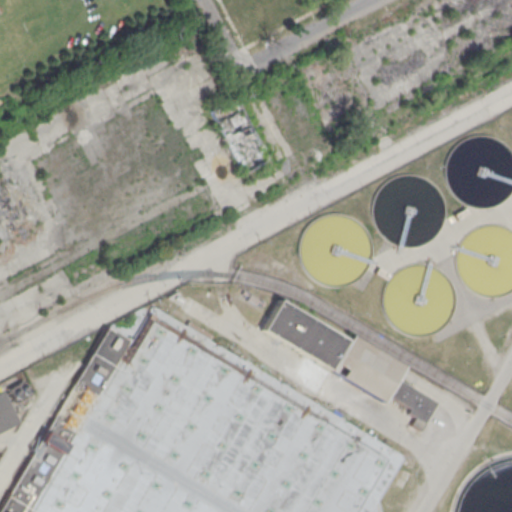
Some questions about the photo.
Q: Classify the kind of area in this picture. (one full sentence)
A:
This image shows an industrial area.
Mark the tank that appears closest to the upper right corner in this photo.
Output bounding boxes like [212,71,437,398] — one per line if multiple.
[443,133,512,209]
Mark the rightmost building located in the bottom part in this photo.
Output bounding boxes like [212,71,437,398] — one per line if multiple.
[394,384,440,430]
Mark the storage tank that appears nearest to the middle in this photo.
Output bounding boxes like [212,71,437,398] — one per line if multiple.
[297,212,378,288]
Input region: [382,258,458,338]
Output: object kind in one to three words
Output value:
storage tank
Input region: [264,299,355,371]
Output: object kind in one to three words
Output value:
building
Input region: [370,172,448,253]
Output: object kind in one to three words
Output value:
storage tank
